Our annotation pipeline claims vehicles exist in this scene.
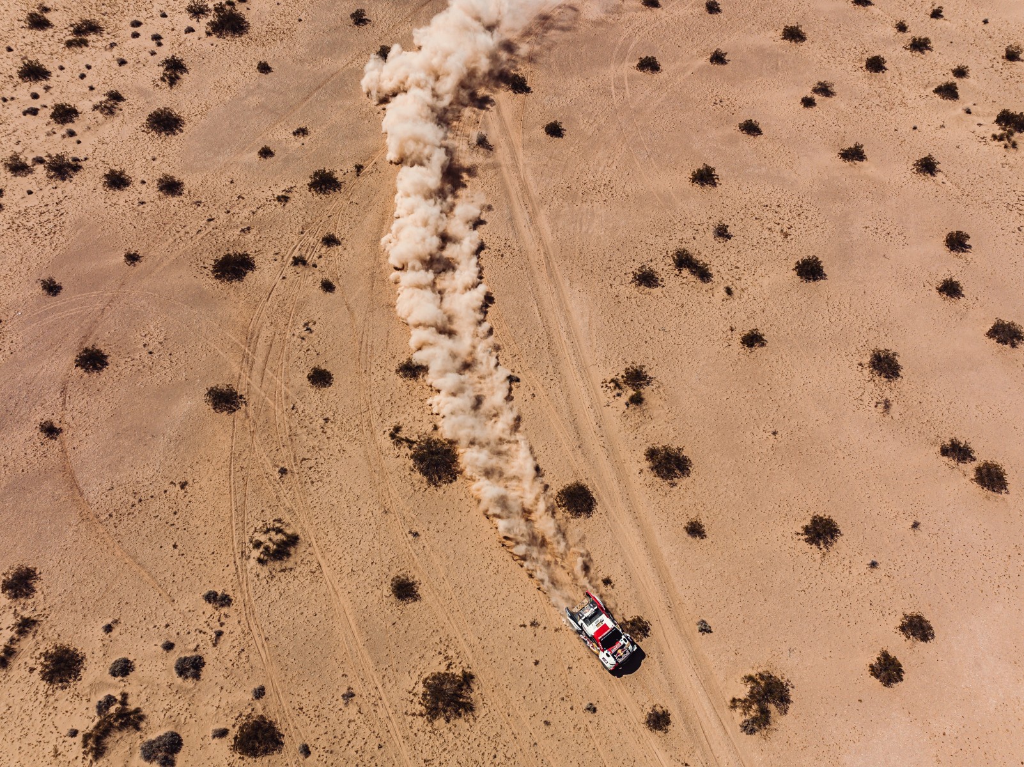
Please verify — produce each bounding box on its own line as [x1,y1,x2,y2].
[566,591,639,673]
